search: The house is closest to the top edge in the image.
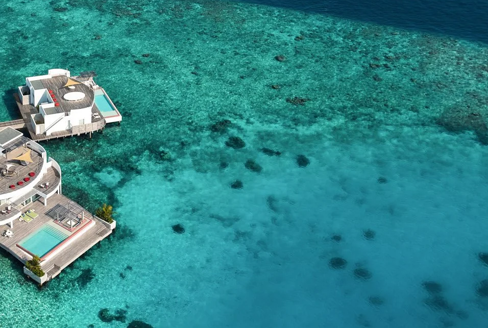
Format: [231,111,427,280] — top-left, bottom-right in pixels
[11,66,106,150]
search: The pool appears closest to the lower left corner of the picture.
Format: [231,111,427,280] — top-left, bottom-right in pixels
[15,207,96,265]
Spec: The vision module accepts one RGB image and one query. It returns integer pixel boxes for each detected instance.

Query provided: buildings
[11,66,106,150]
[0,127,117,298]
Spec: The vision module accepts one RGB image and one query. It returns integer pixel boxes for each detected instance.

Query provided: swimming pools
[92,86,123,124]
[15,207,96,265]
